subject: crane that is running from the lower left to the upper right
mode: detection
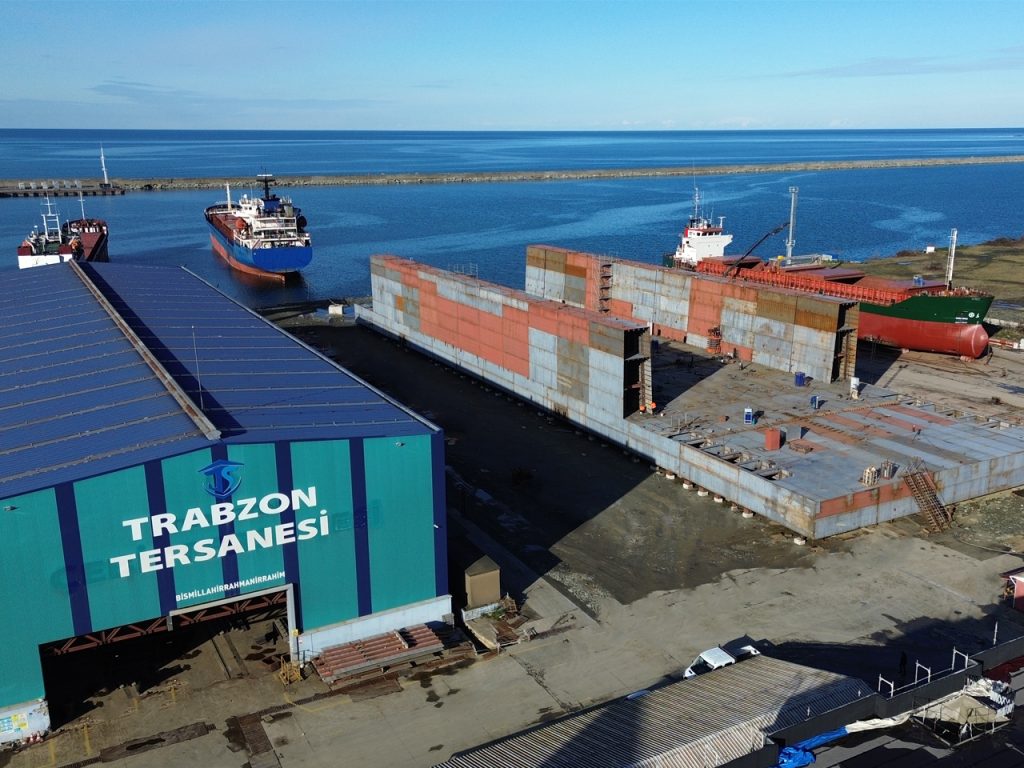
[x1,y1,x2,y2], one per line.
[721,220,791,275]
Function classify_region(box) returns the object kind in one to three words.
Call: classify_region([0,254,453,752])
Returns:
building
